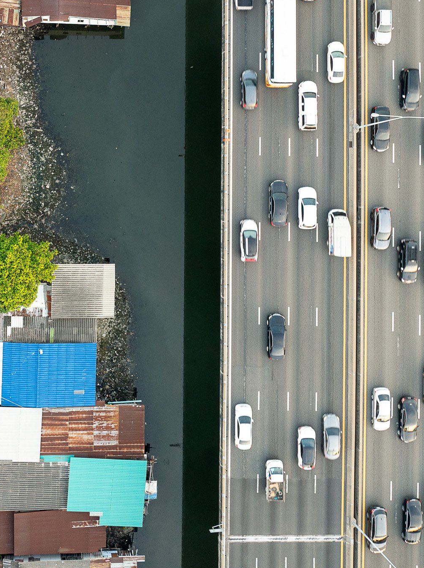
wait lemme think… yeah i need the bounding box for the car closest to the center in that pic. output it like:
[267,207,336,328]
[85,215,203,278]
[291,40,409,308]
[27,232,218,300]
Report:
[240,221,260,259]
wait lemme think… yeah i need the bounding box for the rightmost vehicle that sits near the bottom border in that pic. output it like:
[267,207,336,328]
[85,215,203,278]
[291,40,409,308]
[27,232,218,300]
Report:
[401,497,424,544]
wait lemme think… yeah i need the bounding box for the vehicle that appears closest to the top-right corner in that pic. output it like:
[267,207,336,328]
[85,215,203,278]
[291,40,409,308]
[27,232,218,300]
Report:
[371,0,394,45]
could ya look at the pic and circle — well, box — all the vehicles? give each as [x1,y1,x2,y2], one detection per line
[296,425,319,470]
[234,404,254,449]
[266,0,296,87]
[370,386,393,430]
[269,181,290,226]
[396,239,420,283]
[326,41,346,83]
[371,0,394,45]
[235,0,253,10]
[298,187,320,229]
[322,413,342,460]
[401,497,424,544]
[240,221,260,259]
[397,397,420,441]
[366,505,390,553]
[298,84,320,129]
[370,207,394,249]
[265,455,286,506]
[240,71,260,109]
[267,314,287,359]
[329,208,354,256]
[399,68,422,112]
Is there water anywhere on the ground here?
Yes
